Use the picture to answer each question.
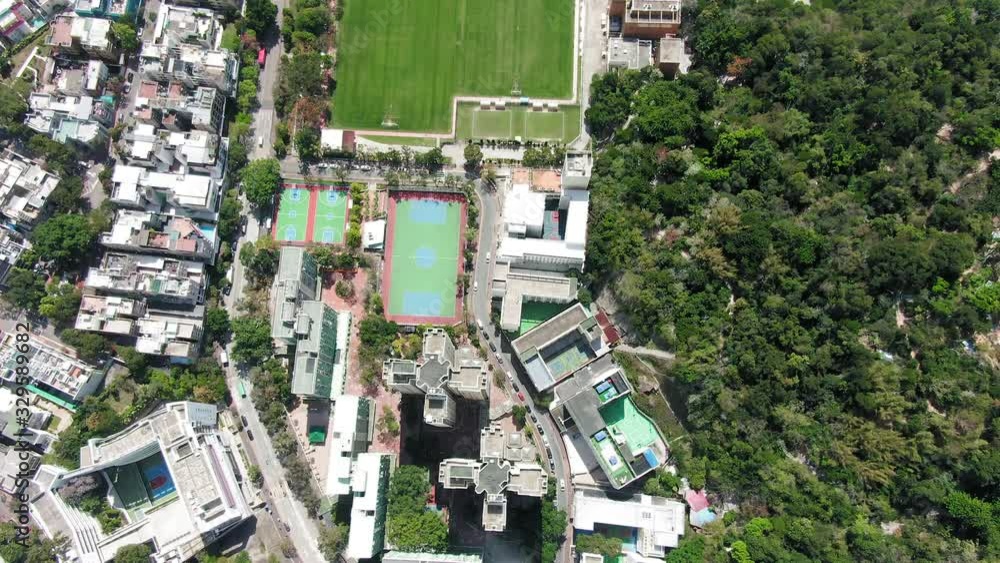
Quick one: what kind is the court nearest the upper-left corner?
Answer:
basketball court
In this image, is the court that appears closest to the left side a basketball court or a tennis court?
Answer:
basketball court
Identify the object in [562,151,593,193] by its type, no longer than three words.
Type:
building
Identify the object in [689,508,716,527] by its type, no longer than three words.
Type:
shed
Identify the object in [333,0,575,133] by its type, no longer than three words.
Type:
sports field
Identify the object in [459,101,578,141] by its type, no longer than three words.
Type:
sports field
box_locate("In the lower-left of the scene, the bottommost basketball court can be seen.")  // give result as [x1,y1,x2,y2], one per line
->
[106,449,184,524]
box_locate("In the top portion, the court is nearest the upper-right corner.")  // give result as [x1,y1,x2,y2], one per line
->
[540,196,566,242]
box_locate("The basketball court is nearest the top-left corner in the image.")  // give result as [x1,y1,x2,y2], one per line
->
[272,184,350,246]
